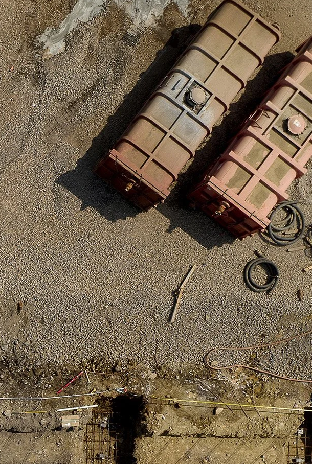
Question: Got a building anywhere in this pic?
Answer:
No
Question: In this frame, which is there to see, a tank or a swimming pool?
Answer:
tank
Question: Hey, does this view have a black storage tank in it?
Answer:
No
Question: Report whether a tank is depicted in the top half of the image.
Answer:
Yes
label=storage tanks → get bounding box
[187,35,312,236]
[92,2,283,211]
